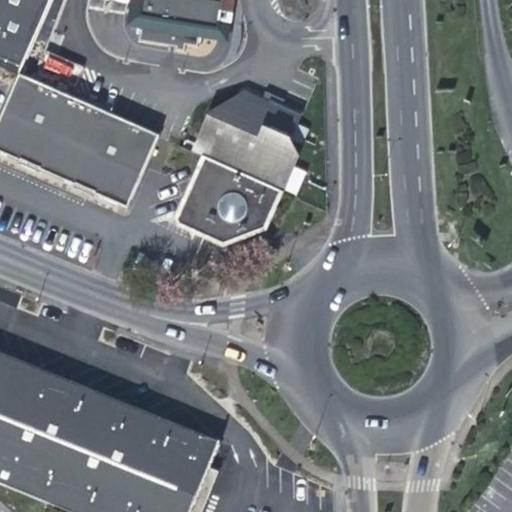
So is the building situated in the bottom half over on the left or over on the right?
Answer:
left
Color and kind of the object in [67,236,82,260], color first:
white car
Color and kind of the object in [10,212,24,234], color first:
gray car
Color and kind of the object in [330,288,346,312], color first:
white car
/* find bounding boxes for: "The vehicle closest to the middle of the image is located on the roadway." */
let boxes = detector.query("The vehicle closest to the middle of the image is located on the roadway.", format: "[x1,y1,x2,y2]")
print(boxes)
[266,286,292,302]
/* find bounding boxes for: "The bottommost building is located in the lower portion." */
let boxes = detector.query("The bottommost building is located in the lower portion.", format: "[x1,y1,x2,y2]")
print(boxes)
[0,350,222,512]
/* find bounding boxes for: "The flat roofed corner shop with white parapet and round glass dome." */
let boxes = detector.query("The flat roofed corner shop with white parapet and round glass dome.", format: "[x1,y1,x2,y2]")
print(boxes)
[177,156,284,246]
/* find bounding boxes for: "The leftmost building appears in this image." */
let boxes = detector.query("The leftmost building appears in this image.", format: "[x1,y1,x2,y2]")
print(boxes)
[0,0,53,75]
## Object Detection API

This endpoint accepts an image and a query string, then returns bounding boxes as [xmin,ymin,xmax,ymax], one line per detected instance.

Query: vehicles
[330,288,346,312]
[162,252,175,274]
[168,166,192,182]
[322,246,338,270]
[262,504,272,512]
[196,306,216,315]
[224,347,246,360]
[0,208,14,232]
[108,84,120,105]
[20,217,36,240]
[154,202,177,215]
[338,16,349,40]
[165,326,186,340]
[254,360,277,377]
[54,231,70,253]
[243,504,262,512]
[366,418,388,428]
[418,456,428,476]
[116,338,138,352]
[33,222,46,242]
[92,76,105,98]
[296,480,306,500]
[78,240,94,264]
[42,307,62,319]
[67,236,82,260]
[266,286,292,302]
[43,228,58,251]
[10,212,24,234]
